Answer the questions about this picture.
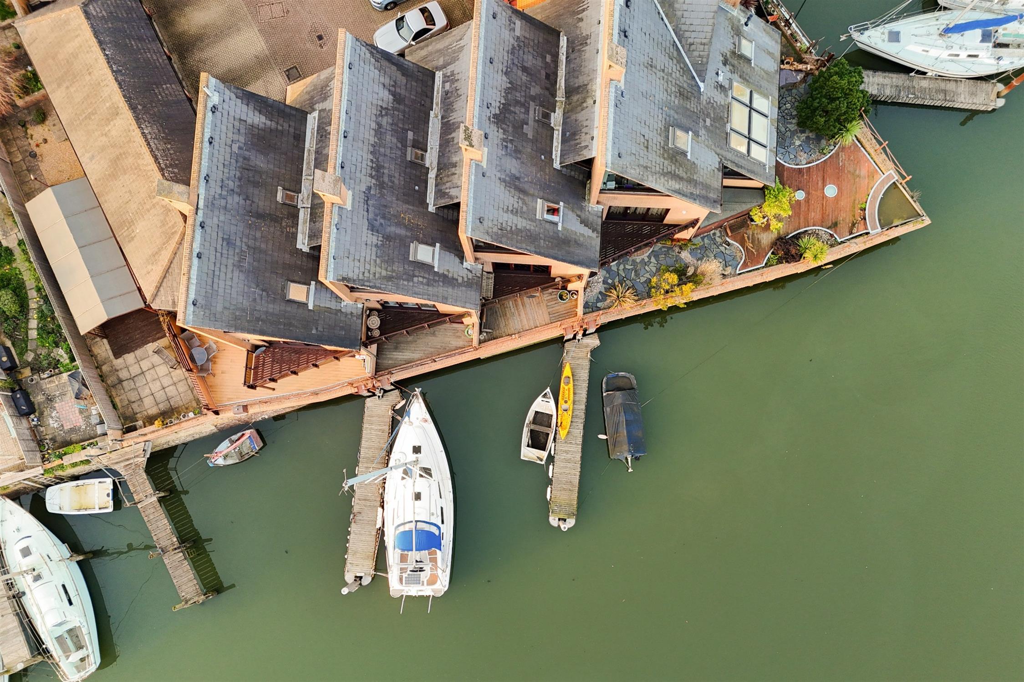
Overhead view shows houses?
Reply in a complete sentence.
Yes, there's a house here.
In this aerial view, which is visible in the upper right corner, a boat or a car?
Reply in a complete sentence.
There is a boat in the upper right corner.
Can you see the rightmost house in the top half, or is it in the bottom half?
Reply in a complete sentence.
The rightmost house sits in the top half of the picture.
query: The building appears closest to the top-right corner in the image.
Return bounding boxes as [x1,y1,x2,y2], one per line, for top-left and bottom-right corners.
[532,0,781,273]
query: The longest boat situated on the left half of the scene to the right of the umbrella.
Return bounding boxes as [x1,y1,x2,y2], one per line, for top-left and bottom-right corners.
[336,385,453,618]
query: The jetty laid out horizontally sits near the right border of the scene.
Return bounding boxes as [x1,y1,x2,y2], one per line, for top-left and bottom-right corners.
[855,69,1004,117]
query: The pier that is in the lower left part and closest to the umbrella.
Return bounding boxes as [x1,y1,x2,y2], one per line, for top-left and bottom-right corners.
[86,442,218,612]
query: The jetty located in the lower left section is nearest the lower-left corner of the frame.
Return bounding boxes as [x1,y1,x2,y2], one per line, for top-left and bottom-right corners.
[0,585,43,678]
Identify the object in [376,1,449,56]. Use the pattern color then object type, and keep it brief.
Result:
white car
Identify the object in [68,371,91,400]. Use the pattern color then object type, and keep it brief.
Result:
gray umbrella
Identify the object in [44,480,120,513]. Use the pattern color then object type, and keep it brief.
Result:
white boat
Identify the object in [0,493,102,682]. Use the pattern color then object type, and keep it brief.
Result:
white boat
